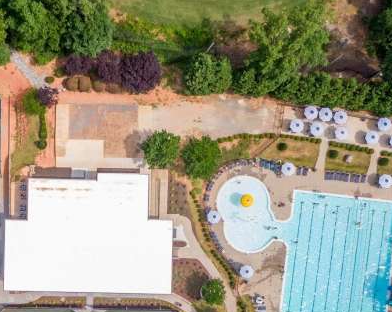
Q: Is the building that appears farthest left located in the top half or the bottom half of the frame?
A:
bottom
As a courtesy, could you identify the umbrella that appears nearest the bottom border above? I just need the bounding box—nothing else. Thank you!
[238,264,252,278]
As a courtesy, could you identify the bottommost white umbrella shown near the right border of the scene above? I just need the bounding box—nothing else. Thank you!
[376,174,390,188]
